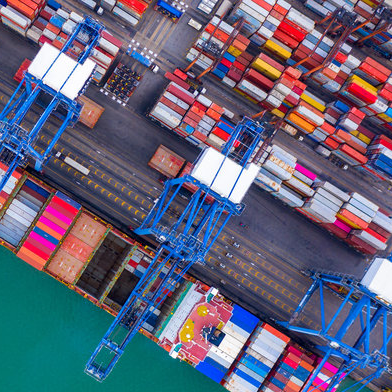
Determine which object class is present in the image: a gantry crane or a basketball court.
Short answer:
gantry crane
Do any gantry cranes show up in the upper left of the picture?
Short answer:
Yes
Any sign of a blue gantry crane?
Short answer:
Yes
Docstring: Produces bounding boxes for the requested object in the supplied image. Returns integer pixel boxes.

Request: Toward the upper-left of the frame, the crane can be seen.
[0,12,105,190]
